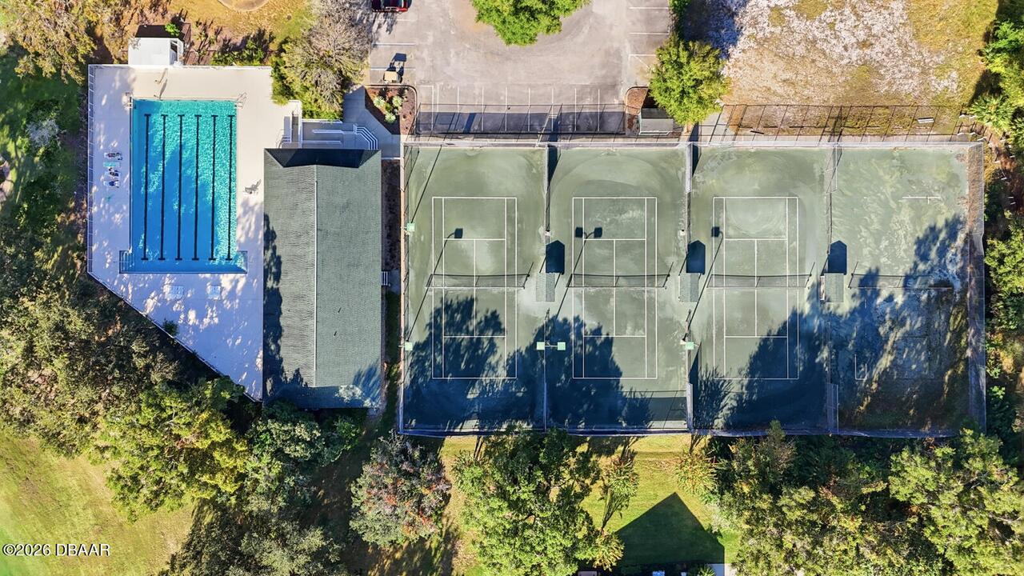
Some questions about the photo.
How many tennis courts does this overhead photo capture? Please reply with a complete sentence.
In total, 4 tennis courts can be seen.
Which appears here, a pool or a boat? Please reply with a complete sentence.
The image shows a pool.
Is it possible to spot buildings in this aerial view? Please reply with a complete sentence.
Yes, the frame does contain a building.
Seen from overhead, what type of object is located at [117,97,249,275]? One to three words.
swimming pool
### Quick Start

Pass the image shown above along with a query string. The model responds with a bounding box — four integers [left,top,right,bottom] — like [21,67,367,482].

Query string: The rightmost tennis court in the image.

[830,146,969,430]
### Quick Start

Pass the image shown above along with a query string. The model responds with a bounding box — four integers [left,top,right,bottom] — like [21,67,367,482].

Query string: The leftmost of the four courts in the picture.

[406,146,547,430]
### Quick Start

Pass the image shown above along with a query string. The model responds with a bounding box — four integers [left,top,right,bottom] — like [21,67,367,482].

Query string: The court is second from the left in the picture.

[547,146,688,430]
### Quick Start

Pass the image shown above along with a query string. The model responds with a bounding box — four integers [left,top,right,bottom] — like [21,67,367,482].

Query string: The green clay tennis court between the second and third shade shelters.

[688,146,830,430]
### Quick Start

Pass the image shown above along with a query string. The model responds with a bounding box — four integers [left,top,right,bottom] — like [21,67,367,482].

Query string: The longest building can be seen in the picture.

[266,149,382,409]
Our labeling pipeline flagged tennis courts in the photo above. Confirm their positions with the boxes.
[830,146,969,430]
[688,146,830,430]
[406,146,547,430]
[547,146,688,430]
